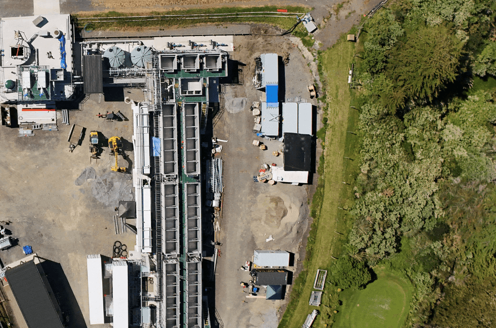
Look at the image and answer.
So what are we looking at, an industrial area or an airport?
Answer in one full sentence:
This looks like an industrial area.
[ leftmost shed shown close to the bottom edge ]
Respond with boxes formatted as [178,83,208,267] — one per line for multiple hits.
[5,255,64,328]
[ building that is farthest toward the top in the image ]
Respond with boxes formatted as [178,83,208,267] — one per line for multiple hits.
[258,53,280,85]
